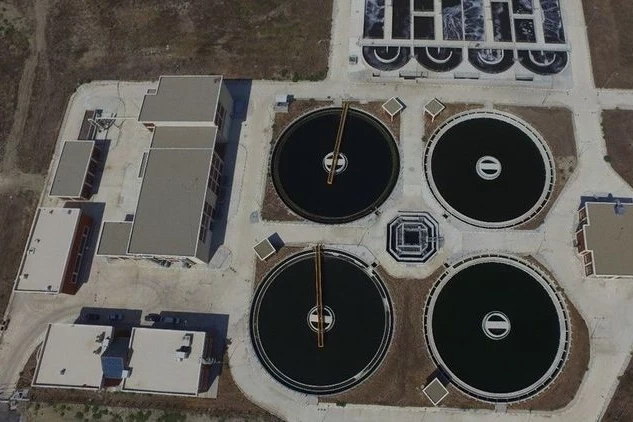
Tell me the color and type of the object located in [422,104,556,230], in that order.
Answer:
black storage tank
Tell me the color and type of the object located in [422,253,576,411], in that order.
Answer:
black storage tank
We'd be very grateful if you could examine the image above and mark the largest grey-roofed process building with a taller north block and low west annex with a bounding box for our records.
[97,76,234,267]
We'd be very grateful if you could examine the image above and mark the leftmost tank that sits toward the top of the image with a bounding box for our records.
[270,99,399,226]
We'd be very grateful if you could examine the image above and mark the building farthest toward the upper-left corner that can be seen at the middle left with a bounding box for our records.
[49,141,98,201]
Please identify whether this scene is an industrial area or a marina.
industrial area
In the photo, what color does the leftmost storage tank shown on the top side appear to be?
black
